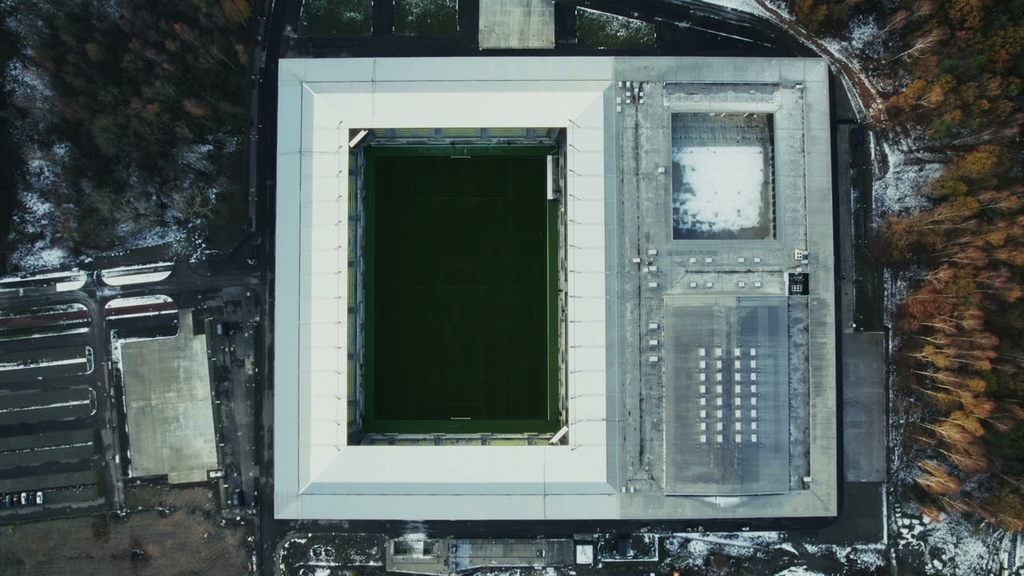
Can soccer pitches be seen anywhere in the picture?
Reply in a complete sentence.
Yes, looking at the shot, I can spot a soccer pitch.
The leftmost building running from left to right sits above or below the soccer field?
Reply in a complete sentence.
From this view, the leftmost building running from left to right can be seen below the soccer field.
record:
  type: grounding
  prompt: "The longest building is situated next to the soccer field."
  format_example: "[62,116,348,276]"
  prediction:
[612,56,837,518]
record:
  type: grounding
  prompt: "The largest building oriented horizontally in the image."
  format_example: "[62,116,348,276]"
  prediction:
[387,536,574,575]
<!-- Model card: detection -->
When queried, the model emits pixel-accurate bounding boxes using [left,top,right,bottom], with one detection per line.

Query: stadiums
[274,57,616,519]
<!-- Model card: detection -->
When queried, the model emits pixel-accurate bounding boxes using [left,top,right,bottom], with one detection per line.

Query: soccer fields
[365,145,560,433]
